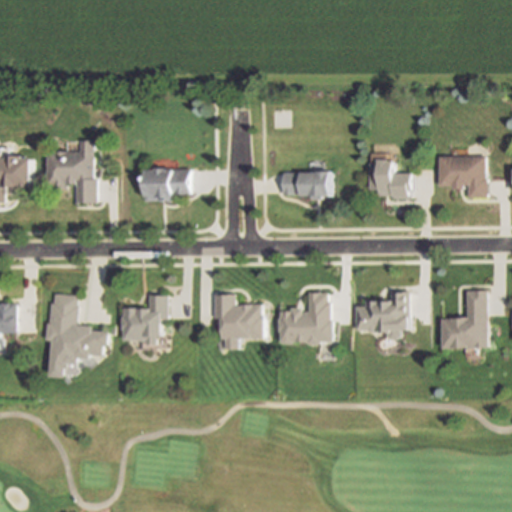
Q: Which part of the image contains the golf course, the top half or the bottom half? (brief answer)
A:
bottom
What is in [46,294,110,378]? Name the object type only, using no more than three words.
house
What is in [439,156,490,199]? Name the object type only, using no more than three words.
house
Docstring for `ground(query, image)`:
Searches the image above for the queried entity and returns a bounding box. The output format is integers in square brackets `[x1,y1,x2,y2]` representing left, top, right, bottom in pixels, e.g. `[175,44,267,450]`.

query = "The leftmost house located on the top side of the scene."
[0,154,30,205]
